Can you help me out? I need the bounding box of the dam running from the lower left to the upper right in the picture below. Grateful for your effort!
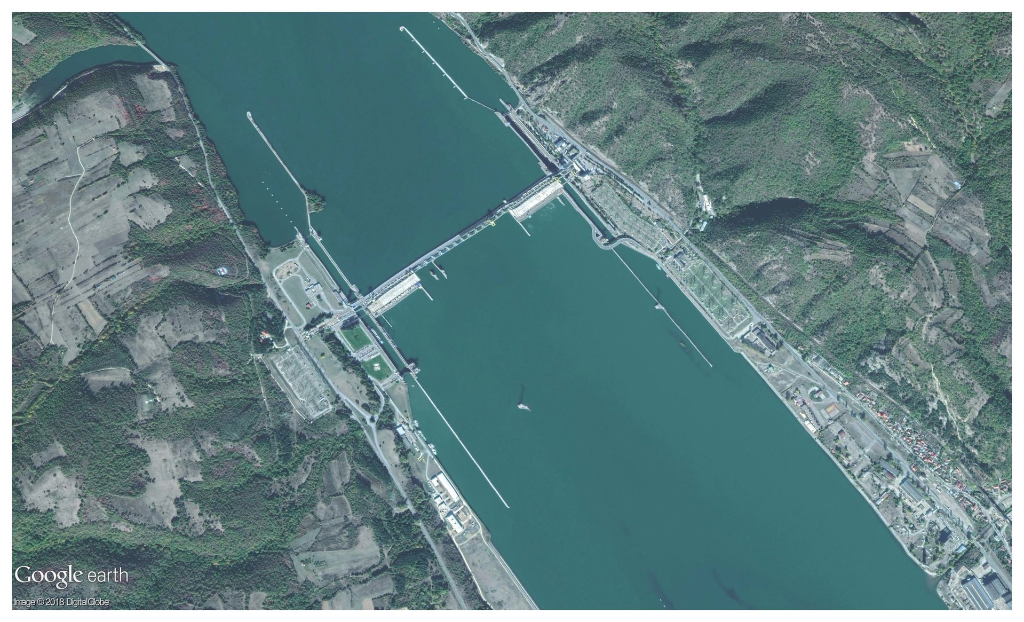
[308,158,580,336]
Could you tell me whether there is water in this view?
Yes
